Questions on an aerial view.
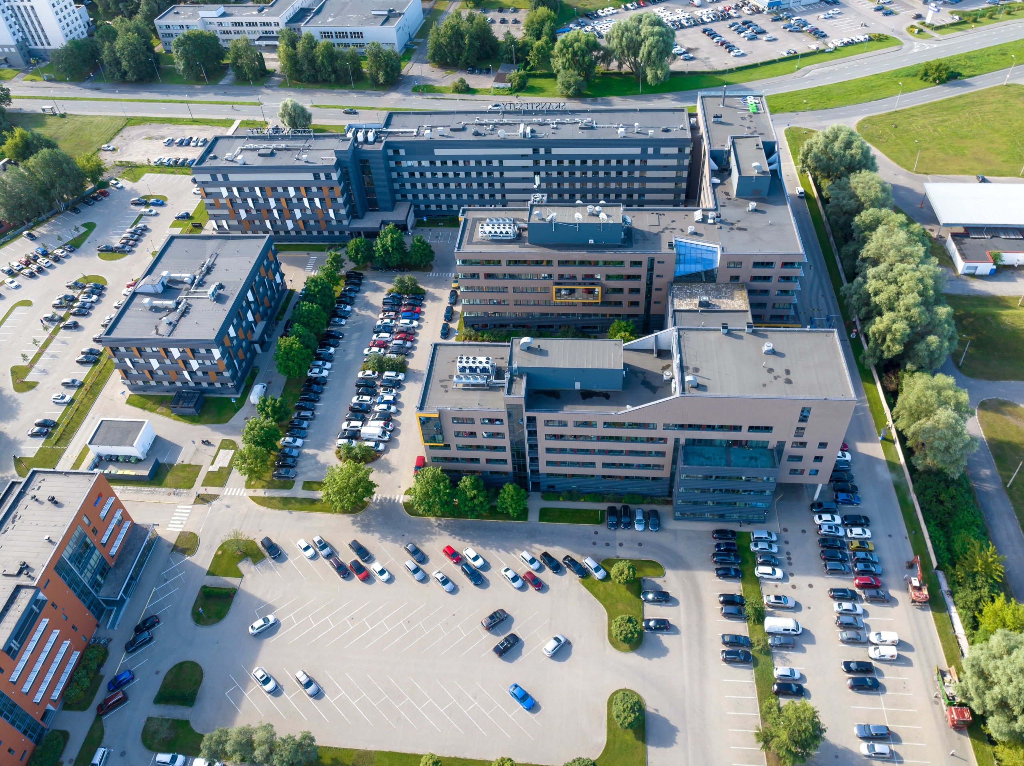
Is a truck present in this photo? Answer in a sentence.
Yes, the picture does show a truck.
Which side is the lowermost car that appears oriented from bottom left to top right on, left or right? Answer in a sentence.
The lowermost car that appears oriented from bottom left to top right sits on the left side.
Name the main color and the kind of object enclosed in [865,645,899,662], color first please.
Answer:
white vehicle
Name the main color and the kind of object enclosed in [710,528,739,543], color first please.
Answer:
black car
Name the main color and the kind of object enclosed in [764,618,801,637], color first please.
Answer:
white vehicle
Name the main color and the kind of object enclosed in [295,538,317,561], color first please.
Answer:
white car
